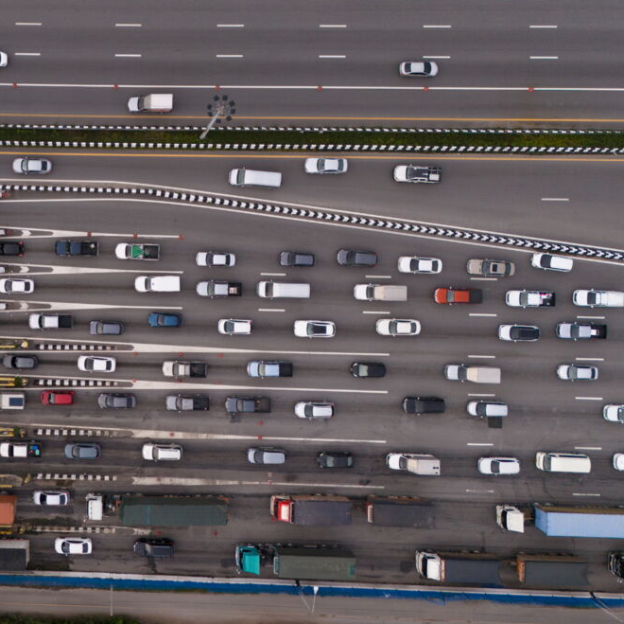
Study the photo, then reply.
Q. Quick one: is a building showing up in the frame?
No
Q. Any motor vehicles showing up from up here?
Yes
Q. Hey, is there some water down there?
No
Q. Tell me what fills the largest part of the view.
paved ground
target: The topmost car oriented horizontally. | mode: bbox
[399,60,437,79]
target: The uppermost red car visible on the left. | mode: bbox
[41,389,76,407]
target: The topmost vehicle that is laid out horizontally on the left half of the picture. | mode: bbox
[127,93,174,112]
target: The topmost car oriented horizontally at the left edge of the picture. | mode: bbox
[12,156,52,175]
